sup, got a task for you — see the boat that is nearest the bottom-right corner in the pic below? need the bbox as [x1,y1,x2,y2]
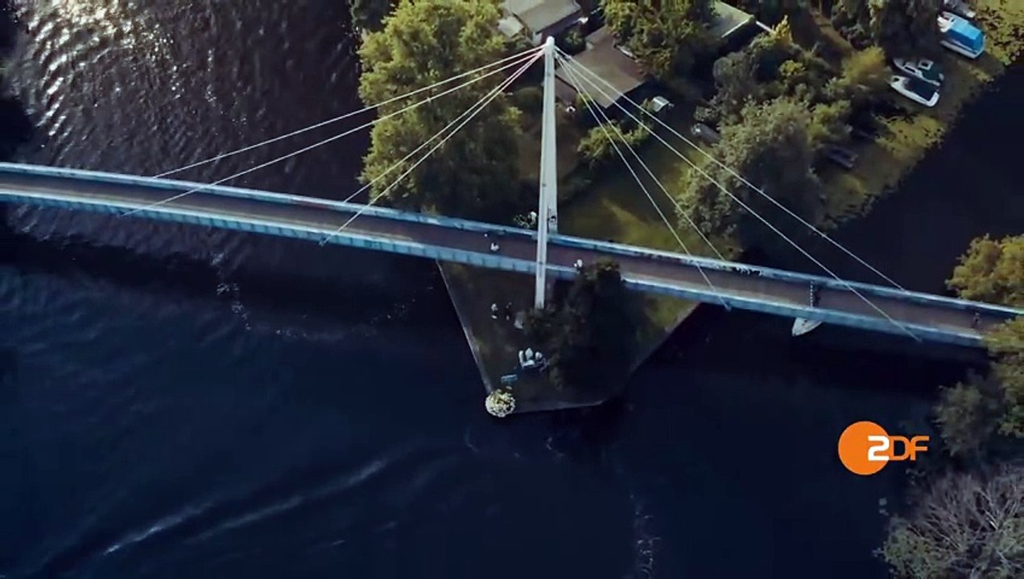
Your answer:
[794,322,817,340]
